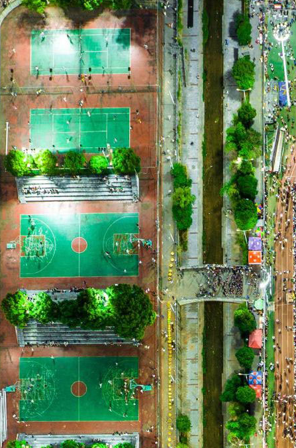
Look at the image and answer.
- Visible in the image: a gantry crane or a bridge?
bridge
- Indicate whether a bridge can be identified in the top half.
No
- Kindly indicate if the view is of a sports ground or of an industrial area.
sports ground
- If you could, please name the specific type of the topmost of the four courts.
tennis court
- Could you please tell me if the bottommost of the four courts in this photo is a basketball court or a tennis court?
basketball court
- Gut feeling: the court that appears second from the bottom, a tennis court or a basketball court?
basketball court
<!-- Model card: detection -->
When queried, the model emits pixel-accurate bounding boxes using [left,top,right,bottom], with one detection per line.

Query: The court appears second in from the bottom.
[20,213,138,278]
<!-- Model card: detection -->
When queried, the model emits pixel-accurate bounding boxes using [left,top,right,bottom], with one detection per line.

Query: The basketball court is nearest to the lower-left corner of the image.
[19,356,138,421]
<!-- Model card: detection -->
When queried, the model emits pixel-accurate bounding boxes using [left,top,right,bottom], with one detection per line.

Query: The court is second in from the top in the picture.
[30,102,130,152]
